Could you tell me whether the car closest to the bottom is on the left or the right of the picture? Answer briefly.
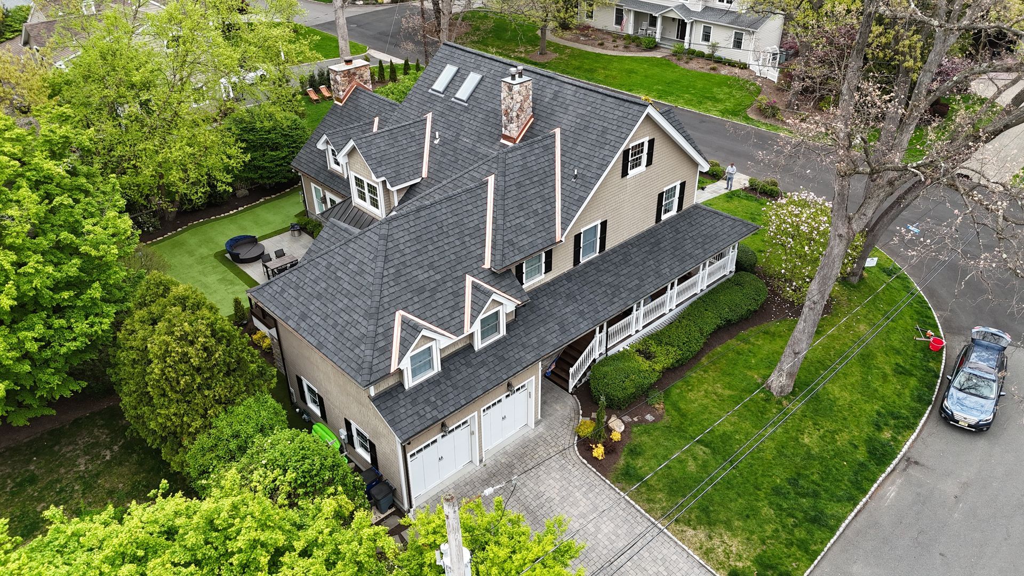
right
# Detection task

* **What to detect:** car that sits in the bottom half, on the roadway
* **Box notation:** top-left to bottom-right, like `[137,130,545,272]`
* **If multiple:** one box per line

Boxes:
[939,313,1014,433]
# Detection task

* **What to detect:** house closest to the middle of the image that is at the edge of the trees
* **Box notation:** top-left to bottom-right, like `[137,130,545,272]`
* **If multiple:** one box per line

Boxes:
[240,42,759,510]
